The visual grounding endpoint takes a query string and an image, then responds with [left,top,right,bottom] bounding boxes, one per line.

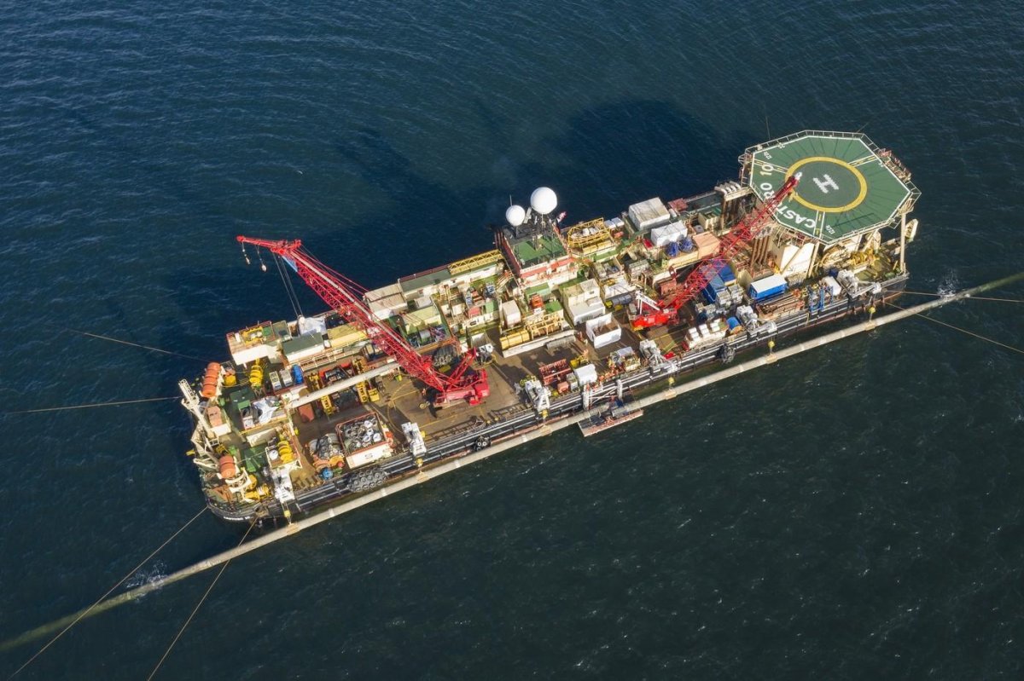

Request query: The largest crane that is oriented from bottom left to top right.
[626,174,801,338]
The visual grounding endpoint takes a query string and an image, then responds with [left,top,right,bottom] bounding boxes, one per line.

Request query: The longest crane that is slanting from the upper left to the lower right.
[236,235,492,416]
